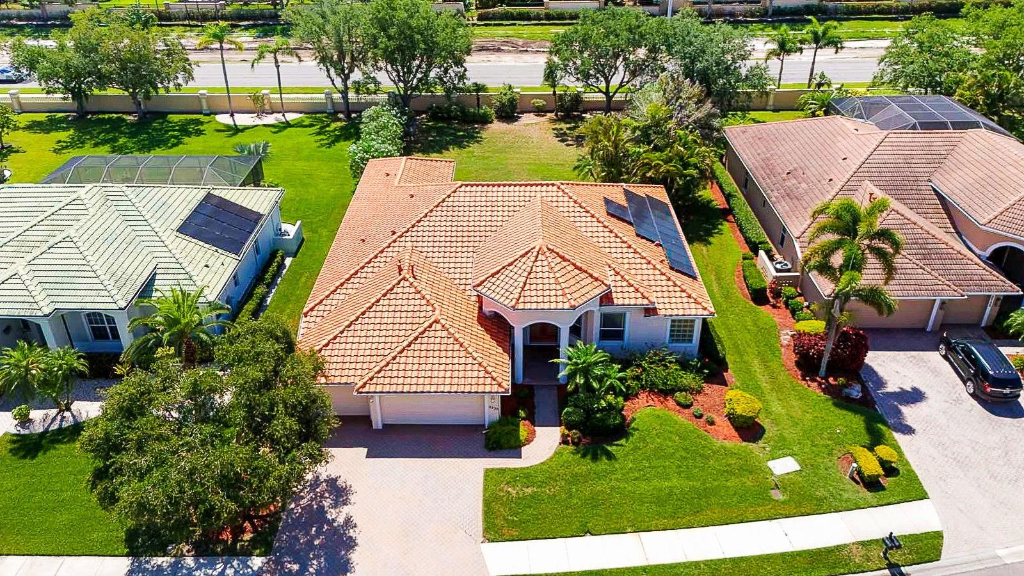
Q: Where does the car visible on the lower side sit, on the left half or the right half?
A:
right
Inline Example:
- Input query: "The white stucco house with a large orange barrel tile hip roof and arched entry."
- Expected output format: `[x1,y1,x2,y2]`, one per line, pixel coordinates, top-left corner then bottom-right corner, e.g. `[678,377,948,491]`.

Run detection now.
[280,154,718,424]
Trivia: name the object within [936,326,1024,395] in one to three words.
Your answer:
car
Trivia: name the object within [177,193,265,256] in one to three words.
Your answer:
solar panel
